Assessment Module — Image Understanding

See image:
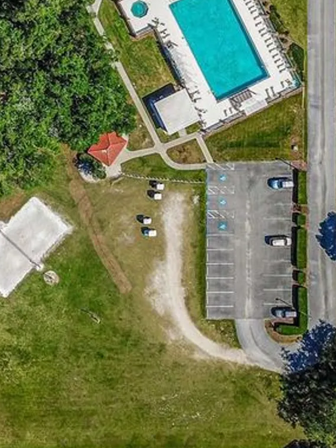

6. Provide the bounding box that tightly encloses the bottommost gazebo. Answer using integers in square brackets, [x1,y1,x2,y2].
[87,129,128,166]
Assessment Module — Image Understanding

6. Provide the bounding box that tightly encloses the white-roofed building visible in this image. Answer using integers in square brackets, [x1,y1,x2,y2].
[151,88,200,135]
